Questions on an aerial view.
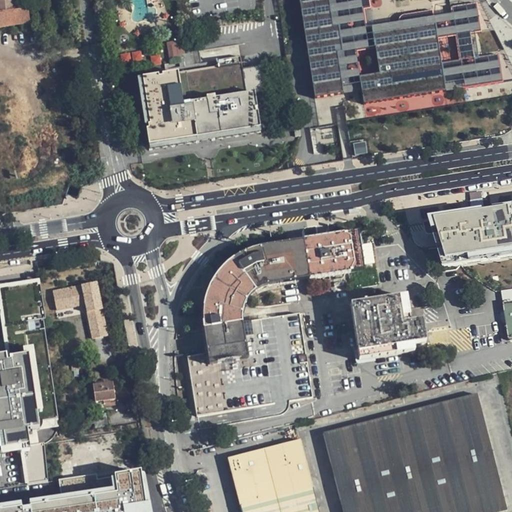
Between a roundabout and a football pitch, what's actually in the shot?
roundabout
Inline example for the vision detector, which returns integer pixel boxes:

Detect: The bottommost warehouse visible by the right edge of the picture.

[323,394,508,512]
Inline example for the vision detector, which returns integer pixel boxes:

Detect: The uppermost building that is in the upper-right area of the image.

[298,0,512,128]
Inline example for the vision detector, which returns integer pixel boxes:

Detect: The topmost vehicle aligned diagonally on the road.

[494,2,508,18]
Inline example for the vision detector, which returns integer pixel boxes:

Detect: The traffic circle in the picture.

[98,190,164,253]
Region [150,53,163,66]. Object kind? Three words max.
umbrella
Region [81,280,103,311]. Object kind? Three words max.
house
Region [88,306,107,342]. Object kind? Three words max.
house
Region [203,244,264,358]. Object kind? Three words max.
building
